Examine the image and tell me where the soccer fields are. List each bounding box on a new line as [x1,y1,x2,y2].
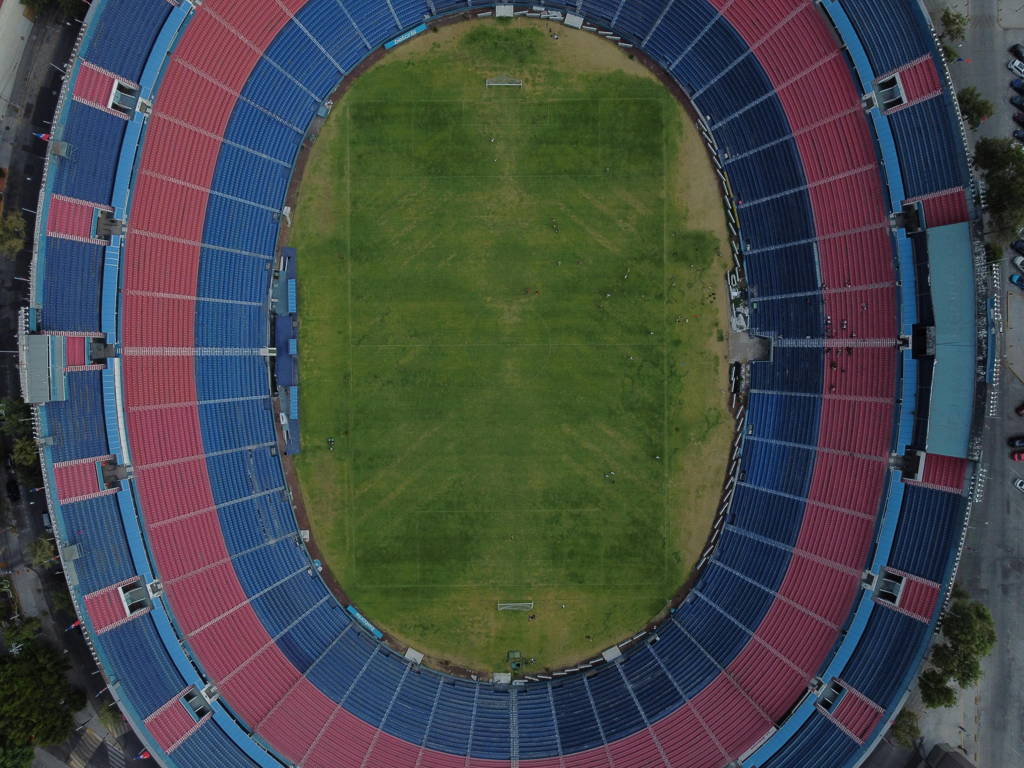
[288,16,734,675]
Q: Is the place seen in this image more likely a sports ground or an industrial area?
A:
sports ground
